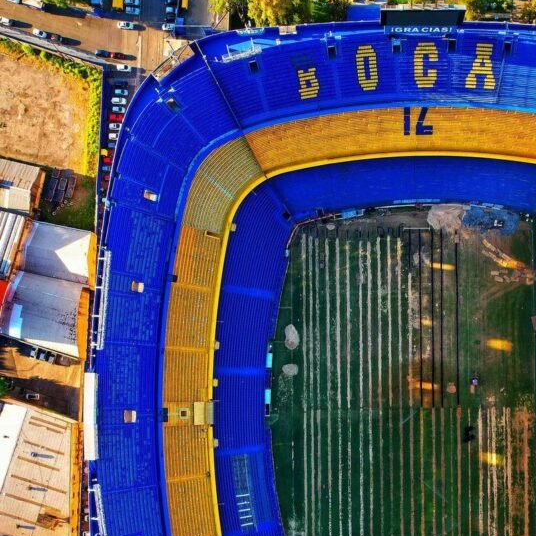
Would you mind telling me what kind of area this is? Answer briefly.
sports ground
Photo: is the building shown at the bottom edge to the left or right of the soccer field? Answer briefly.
to its left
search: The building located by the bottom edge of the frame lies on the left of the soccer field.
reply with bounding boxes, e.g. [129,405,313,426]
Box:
[0,401,83,536]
